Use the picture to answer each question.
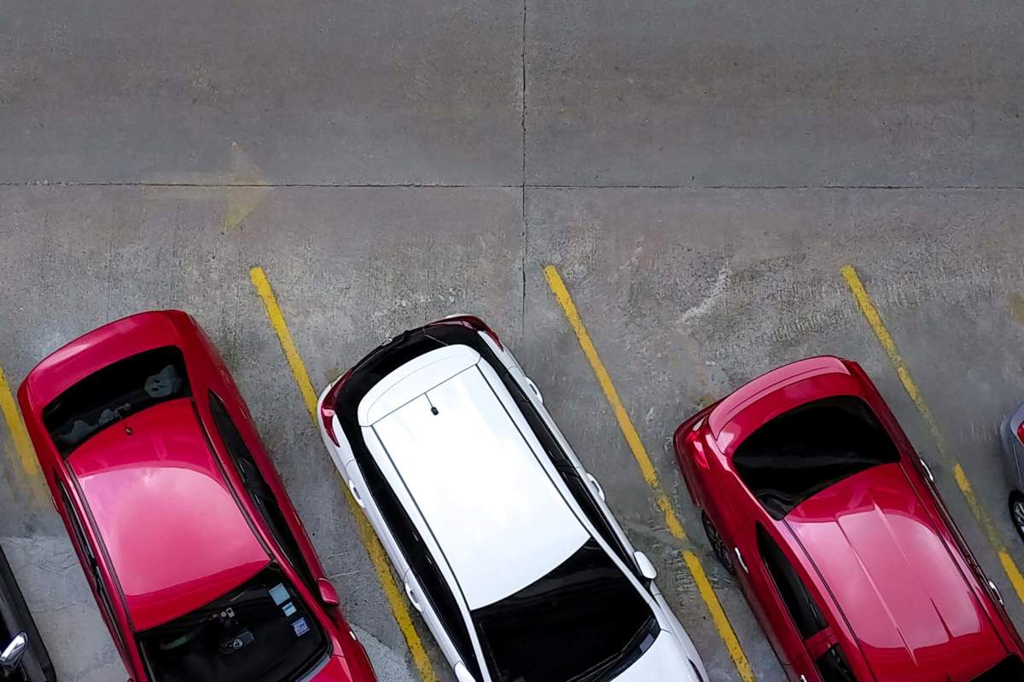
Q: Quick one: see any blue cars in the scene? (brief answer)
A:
No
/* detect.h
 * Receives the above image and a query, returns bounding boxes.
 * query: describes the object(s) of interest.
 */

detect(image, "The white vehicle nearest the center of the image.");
[321,314,712,682]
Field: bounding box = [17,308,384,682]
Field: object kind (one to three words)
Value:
car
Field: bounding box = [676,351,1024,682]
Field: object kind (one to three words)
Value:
car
